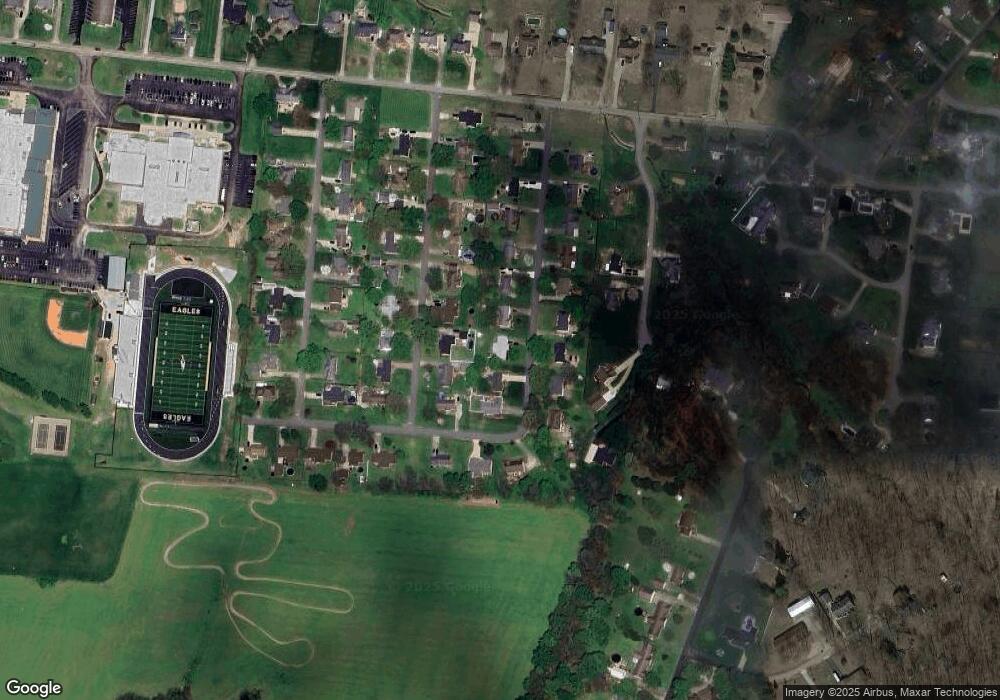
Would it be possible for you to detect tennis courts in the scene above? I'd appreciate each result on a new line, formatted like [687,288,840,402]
[37,424,49,448]
[54,426,66,450]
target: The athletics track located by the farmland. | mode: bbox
[136,267,231,462]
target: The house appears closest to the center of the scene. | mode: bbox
[493,334,510,364]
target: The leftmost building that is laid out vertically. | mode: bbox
[0,107,57,238]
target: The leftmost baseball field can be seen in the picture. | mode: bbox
[0,288,100,392]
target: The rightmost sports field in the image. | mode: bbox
[146,277,221,451]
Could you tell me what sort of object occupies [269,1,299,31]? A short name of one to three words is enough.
house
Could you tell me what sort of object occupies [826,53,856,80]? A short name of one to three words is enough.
house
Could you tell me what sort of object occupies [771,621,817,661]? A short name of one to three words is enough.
barn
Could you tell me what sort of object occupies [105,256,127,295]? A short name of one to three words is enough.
building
